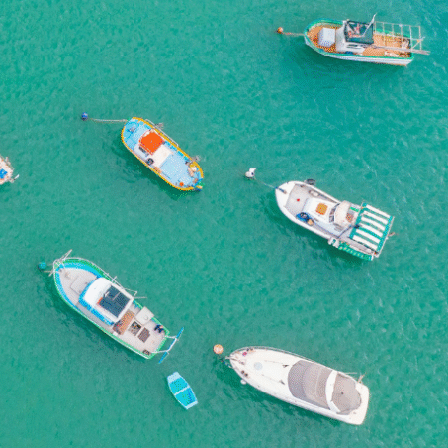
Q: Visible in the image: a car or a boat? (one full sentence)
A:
The one in the frame is a boat.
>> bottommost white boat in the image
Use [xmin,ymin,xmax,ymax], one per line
[229,344,368,425]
